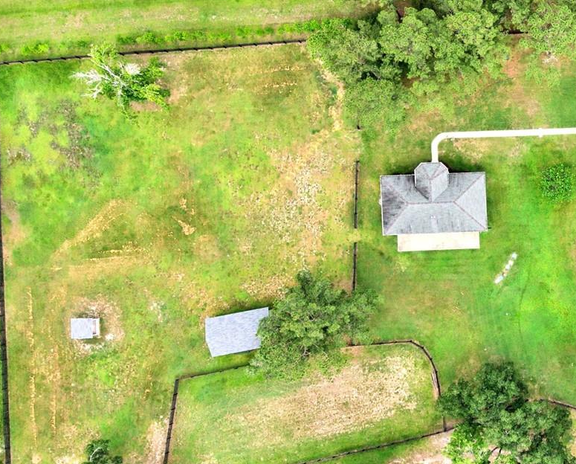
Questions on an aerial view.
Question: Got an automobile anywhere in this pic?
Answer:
No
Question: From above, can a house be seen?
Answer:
Yes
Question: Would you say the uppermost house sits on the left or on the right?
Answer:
right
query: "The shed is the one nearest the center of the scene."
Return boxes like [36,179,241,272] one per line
[206,307,279,357]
